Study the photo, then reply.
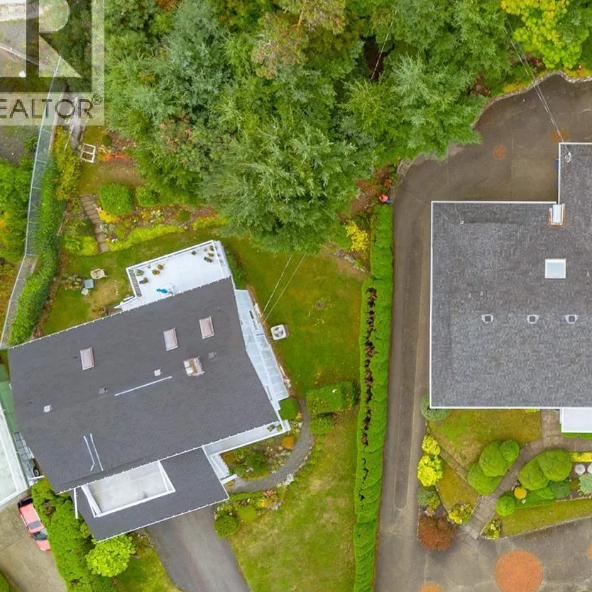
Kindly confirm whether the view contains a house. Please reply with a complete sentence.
Yes, there's a house here.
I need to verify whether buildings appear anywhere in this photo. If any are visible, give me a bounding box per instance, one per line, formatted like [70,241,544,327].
[8,238,304,542]
[429,142,592,435]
